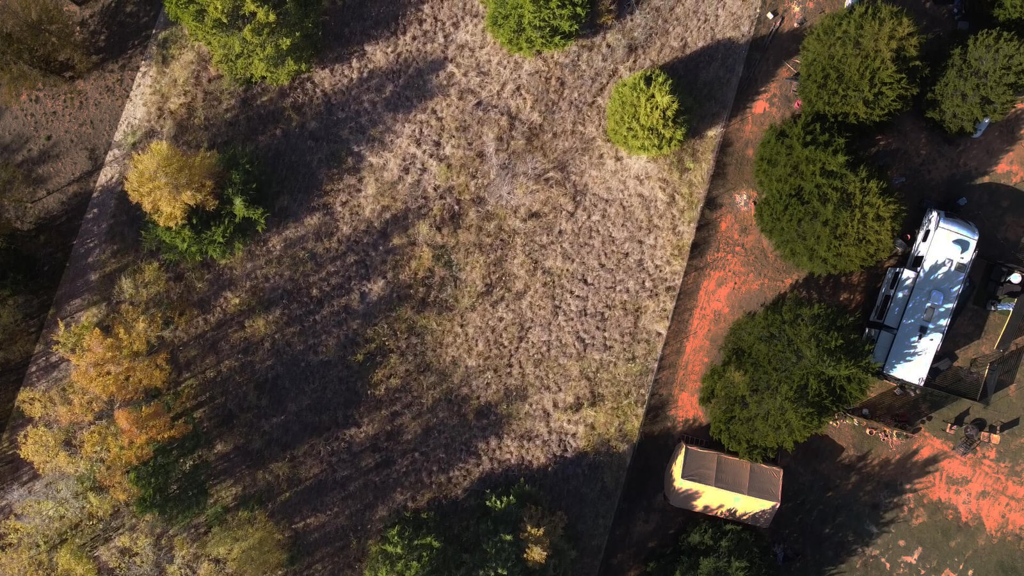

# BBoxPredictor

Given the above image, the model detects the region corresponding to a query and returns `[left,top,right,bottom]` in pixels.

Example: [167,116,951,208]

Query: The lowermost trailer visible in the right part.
[852,211,976,387]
